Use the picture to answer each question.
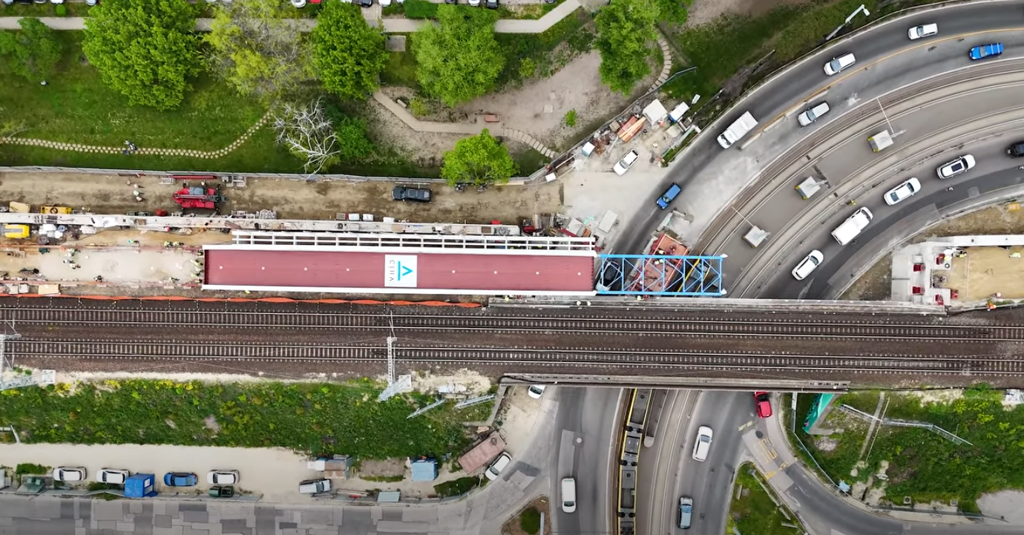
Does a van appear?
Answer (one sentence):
Yes, a van can be made out from above.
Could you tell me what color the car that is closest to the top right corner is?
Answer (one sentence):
In this view, the car that is closest to the top right corner is blue.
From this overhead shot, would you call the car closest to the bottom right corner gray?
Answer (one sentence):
No, the color of the car closest to the bottom right corner is red.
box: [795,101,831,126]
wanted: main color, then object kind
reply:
white car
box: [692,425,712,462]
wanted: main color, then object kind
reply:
white car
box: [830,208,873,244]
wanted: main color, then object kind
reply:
white van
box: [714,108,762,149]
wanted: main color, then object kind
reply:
white truck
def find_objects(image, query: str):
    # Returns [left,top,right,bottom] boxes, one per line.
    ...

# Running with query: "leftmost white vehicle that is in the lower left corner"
[55,464,88,482]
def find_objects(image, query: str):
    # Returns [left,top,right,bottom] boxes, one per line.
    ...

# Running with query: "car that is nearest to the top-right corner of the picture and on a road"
[966,41,1005,61]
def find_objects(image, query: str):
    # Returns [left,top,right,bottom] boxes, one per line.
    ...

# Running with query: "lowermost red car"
[752,392,772,421]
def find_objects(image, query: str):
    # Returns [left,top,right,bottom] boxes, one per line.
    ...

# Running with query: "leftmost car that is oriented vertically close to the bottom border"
[560,475,577,511]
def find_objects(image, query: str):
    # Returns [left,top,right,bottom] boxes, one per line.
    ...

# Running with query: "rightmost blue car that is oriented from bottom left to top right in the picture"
[655,181,682,210]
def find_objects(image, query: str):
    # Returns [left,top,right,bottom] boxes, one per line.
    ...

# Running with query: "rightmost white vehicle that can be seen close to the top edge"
[902,21,941,42]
